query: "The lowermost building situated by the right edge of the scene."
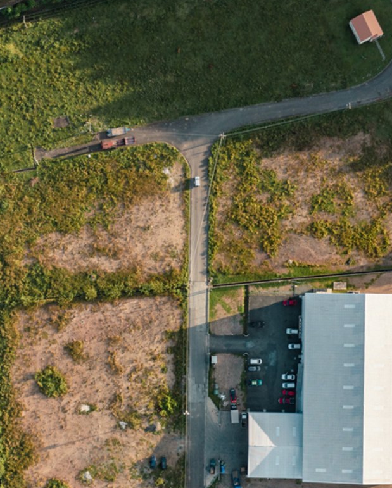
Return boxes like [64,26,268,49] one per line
[295,293,392,486]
